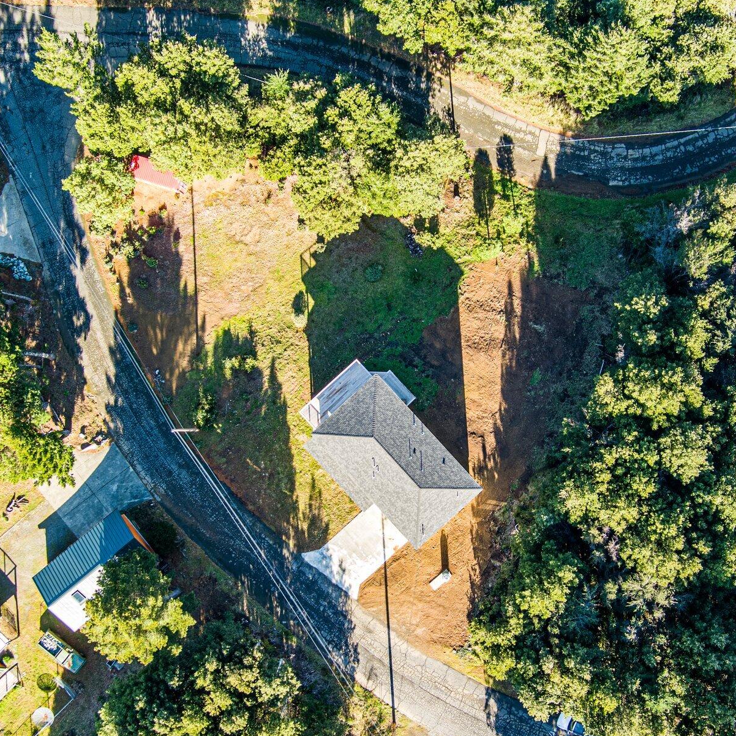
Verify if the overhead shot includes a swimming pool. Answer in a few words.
No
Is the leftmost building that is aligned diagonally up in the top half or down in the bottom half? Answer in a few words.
bottom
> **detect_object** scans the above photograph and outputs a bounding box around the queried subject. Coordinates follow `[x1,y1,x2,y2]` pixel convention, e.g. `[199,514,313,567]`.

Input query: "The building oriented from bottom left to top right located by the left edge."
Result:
[32,512,153,620]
